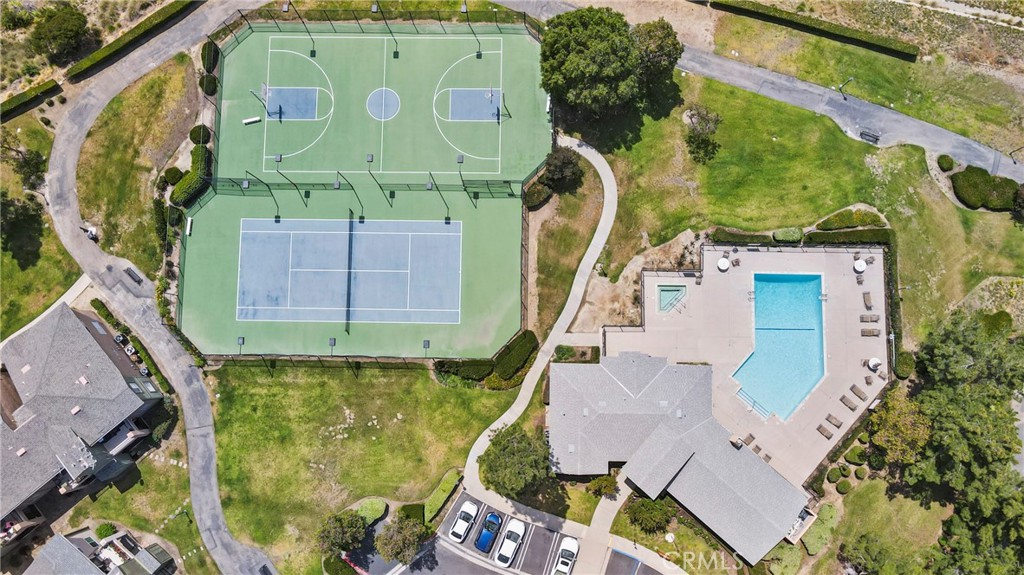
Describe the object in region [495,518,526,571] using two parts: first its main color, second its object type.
white car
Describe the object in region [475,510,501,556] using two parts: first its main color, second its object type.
blue car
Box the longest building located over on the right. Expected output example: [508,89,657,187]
[549,351,824,566]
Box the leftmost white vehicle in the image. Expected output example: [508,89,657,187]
[448,498,477,546]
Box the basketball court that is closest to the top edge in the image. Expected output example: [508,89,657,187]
[215,22,551,183]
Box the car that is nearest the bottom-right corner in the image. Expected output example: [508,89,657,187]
[551,535,578,575]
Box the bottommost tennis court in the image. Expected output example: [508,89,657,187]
[177,181,523,357]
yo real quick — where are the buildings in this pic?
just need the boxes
[549,351,824,566]
[0,301,165,562]
[24,520,184,575]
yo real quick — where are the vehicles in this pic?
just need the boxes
[475,510,501,556]
[495,518,526,571]
[551,535,578,575]
[448,498,477,546]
